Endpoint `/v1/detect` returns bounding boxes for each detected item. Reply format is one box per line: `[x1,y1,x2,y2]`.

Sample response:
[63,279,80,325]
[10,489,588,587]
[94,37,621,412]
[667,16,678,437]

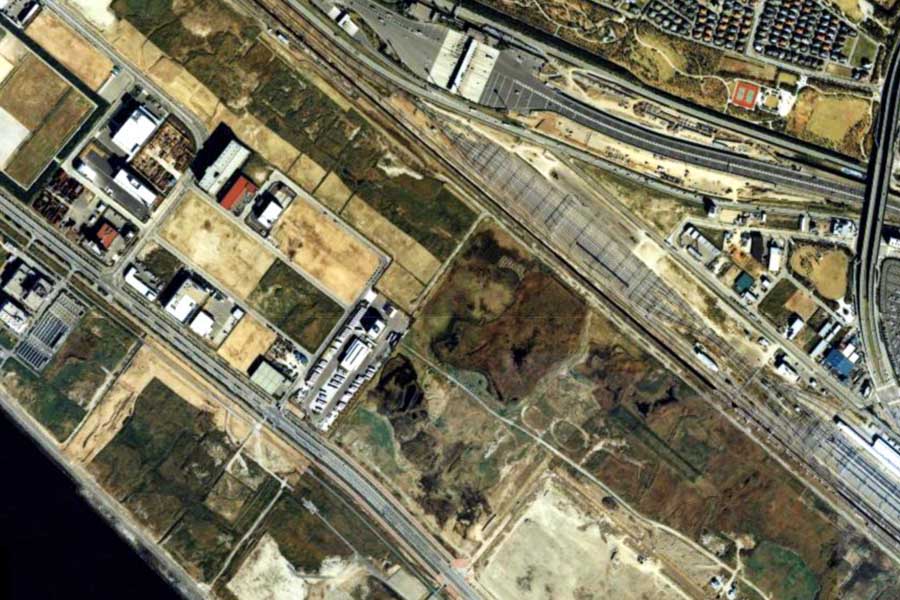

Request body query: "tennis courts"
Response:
[731,80,749,106]
[743,83,760,110]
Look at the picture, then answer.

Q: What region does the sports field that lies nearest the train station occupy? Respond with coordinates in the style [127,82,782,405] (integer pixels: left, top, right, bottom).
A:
[793,246,849,299]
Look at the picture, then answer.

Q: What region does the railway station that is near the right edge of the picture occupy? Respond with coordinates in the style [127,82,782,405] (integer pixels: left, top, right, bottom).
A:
[830,423,900,524]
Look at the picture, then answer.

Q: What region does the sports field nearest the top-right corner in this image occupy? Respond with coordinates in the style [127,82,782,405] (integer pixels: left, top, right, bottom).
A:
[805,97,870,141]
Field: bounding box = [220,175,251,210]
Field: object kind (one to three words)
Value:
building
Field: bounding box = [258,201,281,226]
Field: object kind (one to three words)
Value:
building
